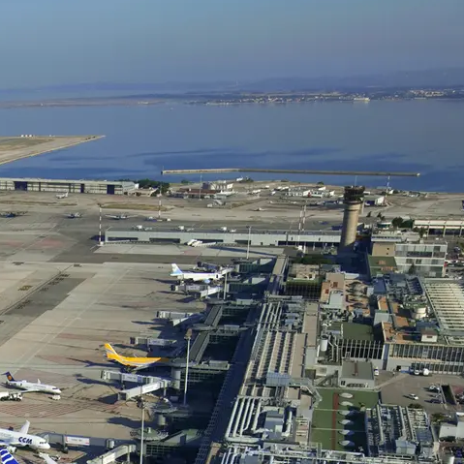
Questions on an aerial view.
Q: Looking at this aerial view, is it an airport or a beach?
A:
airport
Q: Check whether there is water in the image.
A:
Yes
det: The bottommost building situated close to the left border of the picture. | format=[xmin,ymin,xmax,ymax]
[0,178,140,199]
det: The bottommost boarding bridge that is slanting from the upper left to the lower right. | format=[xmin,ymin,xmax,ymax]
[125,336,175,369]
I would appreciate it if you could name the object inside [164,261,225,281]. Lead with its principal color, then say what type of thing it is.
white airplane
